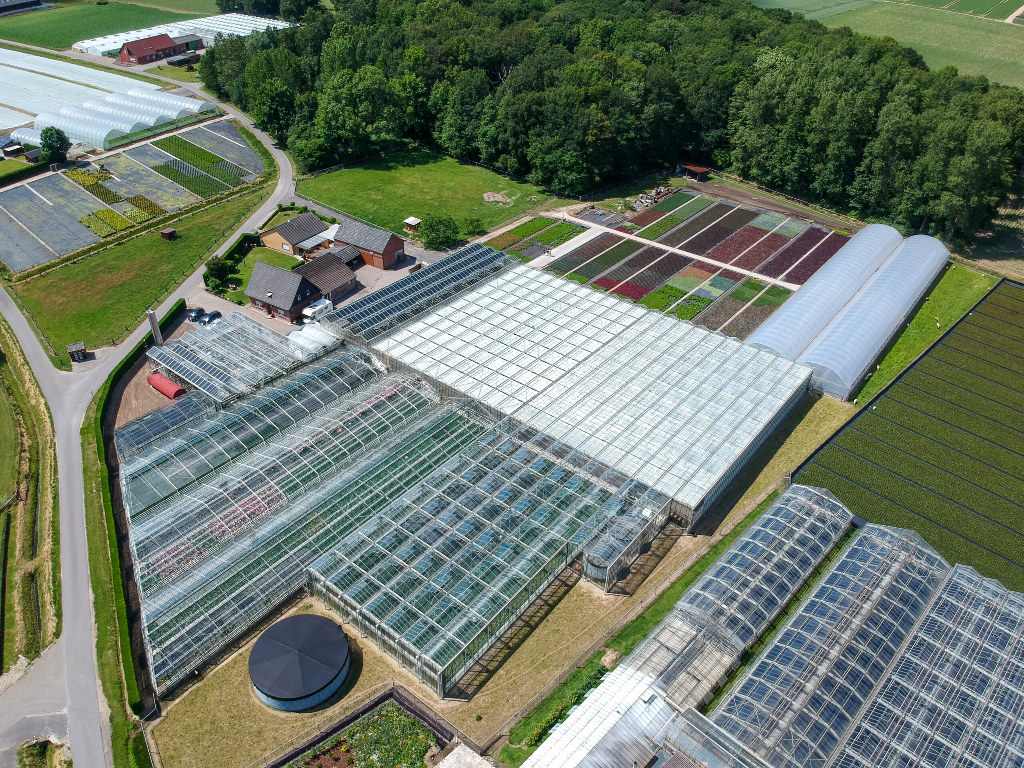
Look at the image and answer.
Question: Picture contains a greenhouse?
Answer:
Yes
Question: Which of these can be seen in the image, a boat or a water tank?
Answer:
water tank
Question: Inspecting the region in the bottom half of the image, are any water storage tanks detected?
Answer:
Yes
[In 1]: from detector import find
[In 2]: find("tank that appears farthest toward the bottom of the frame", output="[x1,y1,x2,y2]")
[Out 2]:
[248,614,356,712]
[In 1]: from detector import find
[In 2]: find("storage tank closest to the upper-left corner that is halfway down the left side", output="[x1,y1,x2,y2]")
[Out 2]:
[141,359,182,396]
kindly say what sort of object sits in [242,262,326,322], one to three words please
house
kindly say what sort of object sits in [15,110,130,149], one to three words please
greenhouse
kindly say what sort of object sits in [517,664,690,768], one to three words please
greenhouse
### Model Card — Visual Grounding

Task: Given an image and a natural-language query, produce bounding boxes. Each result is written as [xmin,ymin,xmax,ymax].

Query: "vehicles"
[187,307,206,321]
[200,310,219,323]
[305,295,335,320]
